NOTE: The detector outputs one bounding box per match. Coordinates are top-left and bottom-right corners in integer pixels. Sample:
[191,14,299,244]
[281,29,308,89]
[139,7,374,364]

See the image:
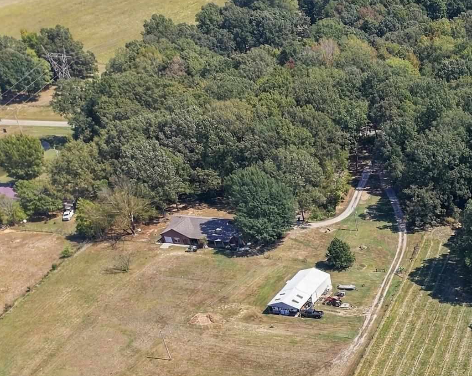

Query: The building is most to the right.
[267,269,331,318]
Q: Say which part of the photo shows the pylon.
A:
top left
